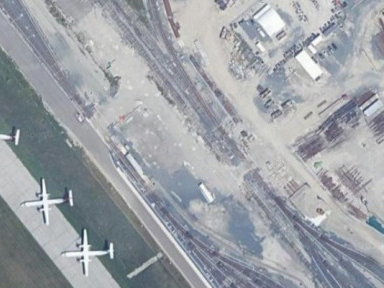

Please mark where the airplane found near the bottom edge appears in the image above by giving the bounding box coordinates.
[61,230,113,277]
